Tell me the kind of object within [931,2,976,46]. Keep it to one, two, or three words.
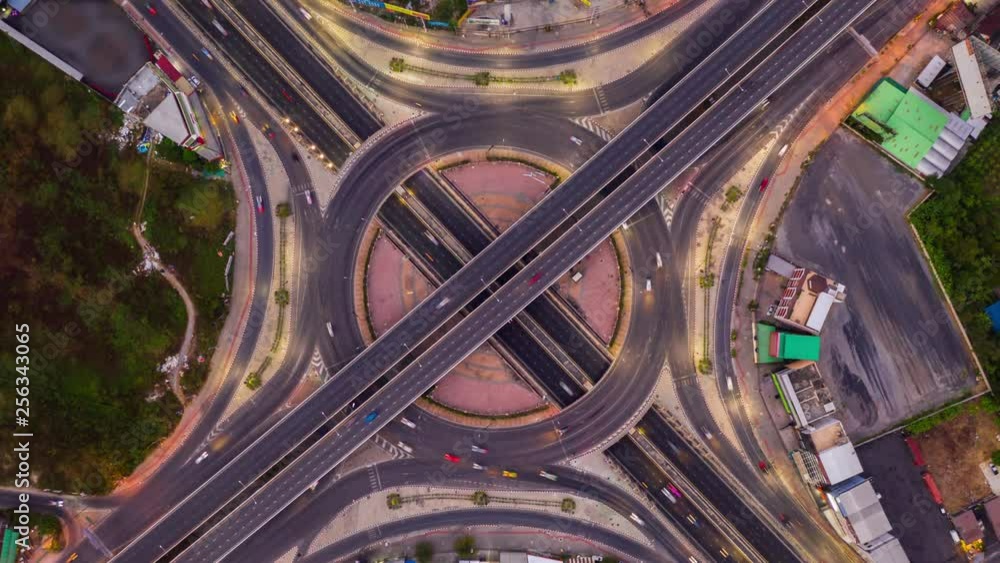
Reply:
house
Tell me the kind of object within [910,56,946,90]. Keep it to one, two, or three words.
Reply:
building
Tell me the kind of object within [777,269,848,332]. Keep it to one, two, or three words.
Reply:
building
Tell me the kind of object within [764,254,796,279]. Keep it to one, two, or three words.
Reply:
shed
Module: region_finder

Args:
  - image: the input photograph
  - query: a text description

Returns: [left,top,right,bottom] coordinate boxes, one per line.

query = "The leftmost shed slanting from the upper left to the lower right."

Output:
[0,20,90,84]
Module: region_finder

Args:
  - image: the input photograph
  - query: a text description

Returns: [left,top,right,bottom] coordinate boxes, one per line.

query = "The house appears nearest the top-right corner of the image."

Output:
[967,2,1000,43]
